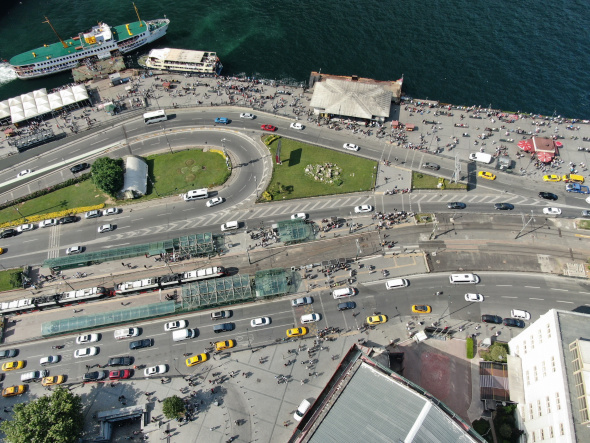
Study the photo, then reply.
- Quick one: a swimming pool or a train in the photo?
train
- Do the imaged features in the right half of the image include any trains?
No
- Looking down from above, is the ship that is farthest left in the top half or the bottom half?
top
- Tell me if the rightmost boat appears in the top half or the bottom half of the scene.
top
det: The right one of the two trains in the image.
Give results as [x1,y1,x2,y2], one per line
[109,266,224,297]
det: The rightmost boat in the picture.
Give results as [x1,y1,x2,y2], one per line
[134,47,222,75]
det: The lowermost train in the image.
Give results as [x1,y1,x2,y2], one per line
[0,285,110,317]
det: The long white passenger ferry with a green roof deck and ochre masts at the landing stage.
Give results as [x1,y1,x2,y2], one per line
[0,3,173,76]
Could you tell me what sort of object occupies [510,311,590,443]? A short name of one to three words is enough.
building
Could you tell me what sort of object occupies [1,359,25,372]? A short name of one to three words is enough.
vehicle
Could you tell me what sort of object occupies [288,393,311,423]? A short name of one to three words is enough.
vehicle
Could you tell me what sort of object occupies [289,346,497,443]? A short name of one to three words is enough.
building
